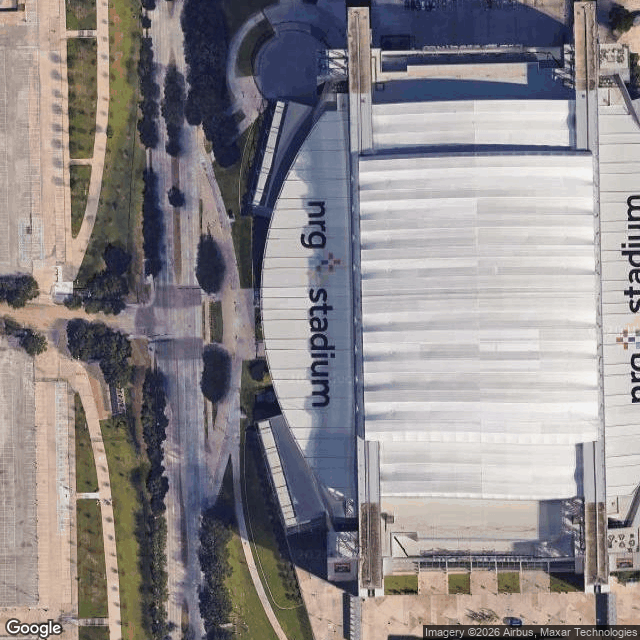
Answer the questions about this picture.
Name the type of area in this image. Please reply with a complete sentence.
What you see here is a sports ground.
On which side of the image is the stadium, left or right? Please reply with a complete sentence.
The stadium is on the right side of the image.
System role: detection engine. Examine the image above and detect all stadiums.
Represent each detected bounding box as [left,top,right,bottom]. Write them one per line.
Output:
[252,2,640,598]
